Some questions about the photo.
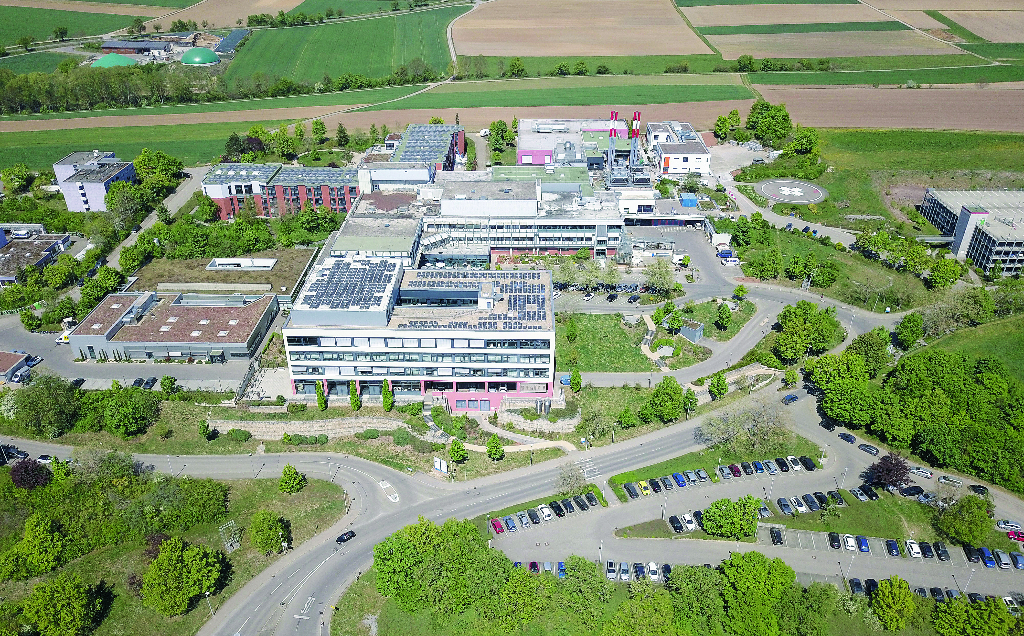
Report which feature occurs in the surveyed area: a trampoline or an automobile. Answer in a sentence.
Looking from above, you can make out an automobile.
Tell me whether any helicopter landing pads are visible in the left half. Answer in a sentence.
No, I see no helicopter landing pad in the left half.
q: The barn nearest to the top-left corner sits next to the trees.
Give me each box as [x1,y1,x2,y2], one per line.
[100,37,187,58]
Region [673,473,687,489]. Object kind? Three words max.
car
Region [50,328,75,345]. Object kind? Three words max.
vehicle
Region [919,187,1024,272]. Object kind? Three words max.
building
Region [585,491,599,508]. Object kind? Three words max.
car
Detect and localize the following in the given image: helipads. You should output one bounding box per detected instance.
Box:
[753,177,830,206]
